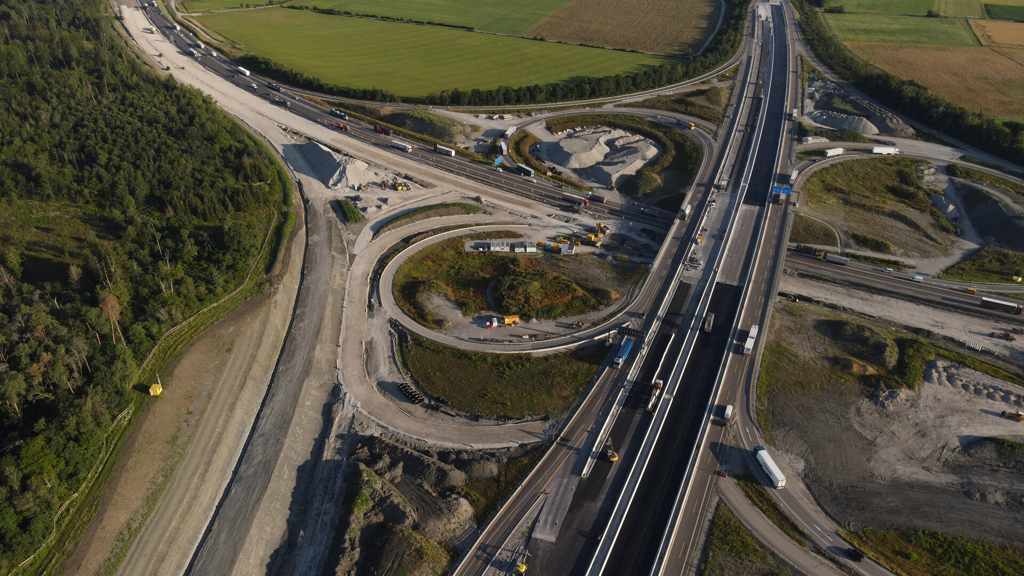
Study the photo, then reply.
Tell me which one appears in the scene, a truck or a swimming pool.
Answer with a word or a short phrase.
truck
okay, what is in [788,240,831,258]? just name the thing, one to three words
vehicle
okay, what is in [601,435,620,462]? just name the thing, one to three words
work vehicle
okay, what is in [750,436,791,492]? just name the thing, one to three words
truck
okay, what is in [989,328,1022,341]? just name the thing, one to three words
vehicle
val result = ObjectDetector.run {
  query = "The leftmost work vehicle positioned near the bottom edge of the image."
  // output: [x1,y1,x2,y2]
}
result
[513,539,531,573]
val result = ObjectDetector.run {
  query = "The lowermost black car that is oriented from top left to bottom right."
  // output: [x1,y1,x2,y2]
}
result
[844,544,868,563]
